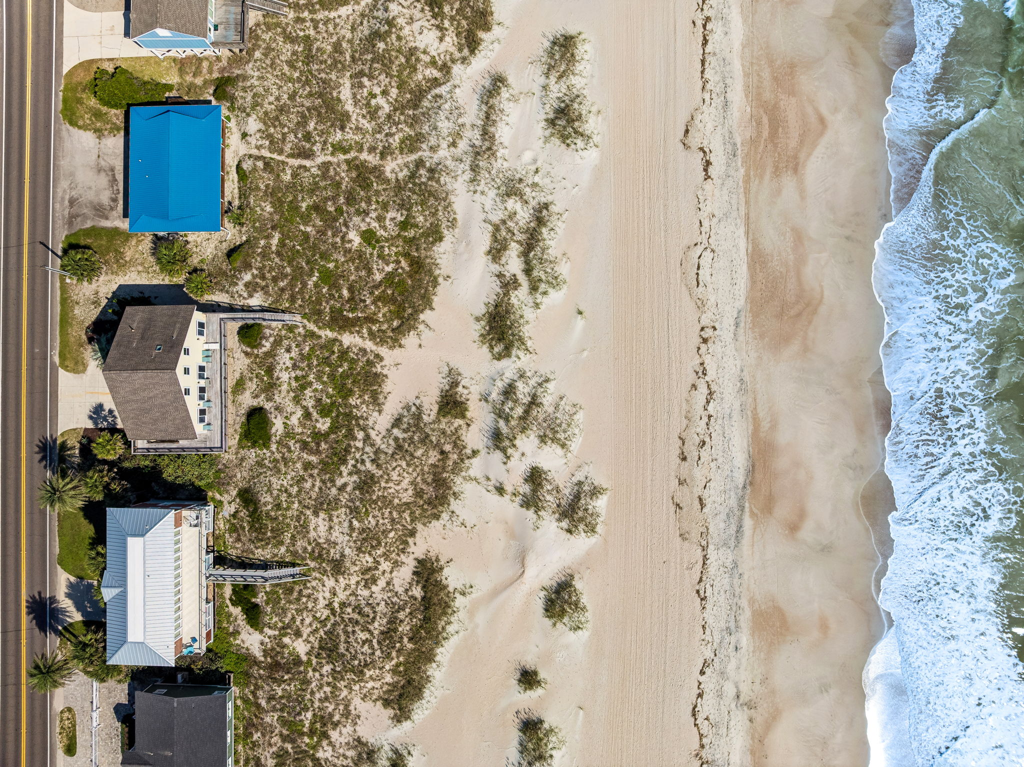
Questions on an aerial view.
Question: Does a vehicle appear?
No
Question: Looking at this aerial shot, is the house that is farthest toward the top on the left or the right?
left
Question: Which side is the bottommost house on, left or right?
left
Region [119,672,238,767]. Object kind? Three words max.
house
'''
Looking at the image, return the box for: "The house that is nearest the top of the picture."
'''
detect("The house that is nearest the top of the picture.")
[131,0,220,61]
